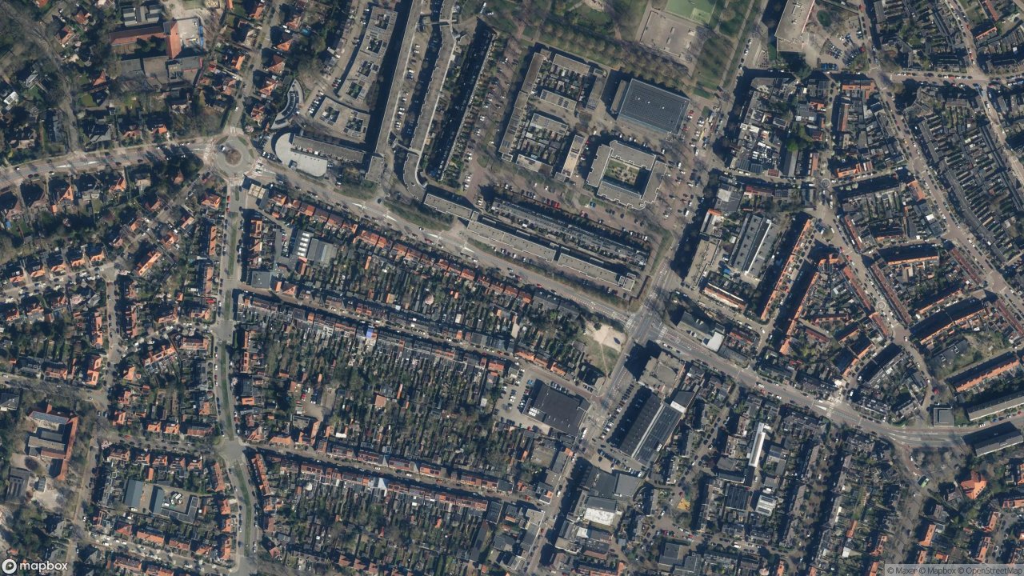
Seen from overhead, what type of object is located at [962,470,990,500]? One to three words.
house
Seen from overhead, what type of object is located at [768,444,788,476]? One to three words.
building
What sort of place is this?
residential area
